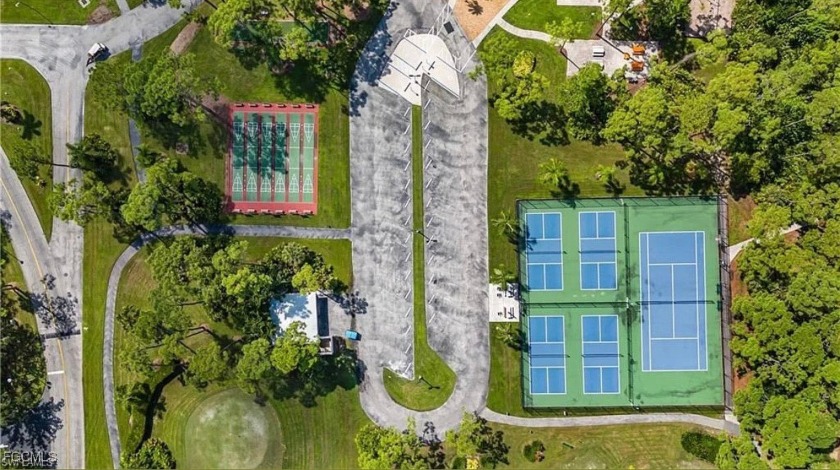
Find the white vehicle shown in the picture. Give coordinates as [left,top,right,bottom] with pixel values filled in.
[84,39,111,64]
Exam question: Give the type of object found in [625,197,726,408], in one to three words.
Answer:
tennis court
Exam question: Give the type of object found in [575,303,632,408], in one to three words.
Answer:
sports court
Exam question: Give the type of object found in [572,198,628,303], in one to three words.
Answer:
sports court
